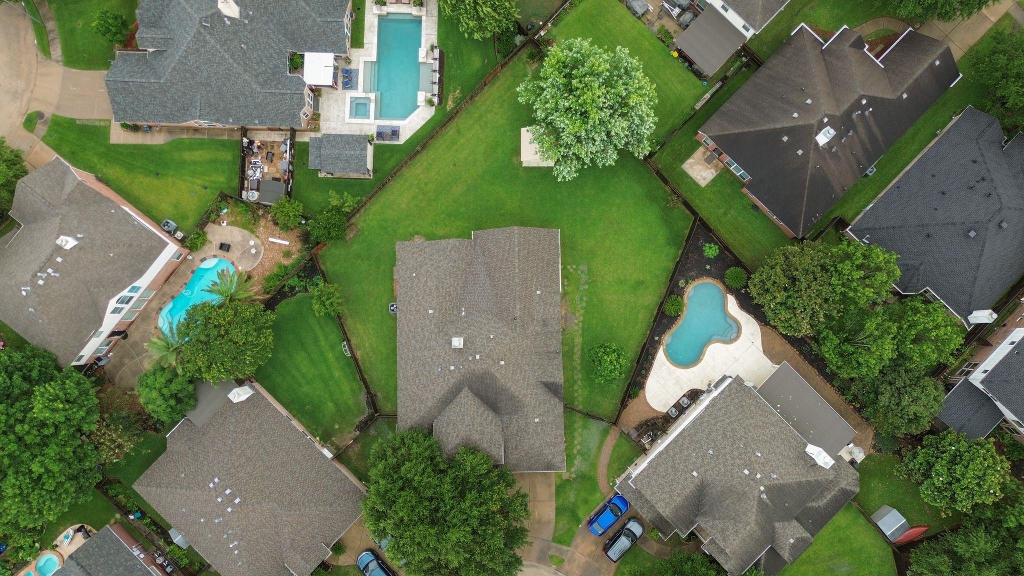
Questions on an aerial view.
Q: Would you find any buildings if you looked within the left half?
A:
Yes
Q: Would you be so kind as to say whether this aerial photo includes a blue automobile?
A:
Yes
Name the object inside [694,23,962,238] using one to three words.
house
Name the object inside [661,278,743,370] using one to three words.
swimming pool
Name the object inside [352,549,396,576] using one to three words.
car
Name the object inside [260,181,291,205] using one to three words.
shed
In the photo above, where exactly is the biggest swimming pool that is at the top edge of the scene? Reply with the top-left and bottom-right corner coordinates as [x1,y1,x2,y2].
[360,13,436,123]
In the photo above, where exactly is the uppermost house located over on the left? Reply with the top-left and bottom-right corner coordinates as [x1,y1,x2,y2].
[105,0,355,132]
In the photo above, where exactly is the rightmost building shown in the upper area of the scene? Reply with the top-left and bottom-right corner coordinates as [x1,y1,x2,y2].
[835,104,1024,331]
